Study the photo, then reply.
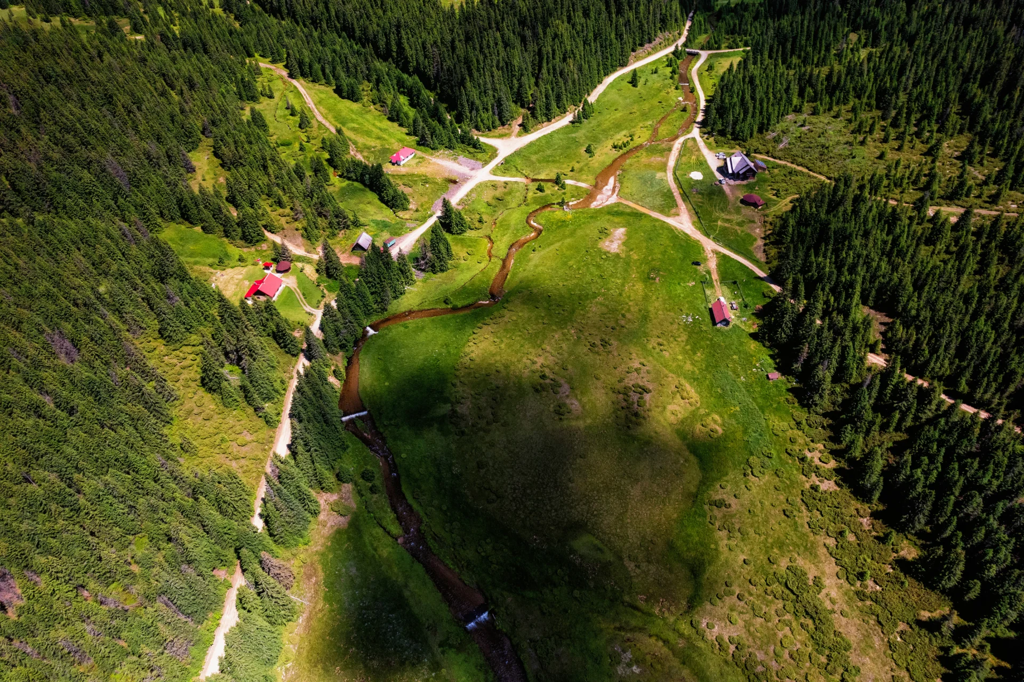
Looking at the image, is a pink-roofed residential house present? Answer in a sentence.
Yes, the picture does show a pink-roofed residential house.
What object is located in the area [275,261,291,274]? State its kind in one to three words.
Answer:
gazebo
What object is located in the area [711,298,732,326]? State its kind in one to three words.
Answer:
building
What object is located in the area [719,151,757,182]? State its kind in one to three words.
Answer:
building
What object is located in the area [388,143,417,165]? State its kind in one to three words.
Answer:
house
